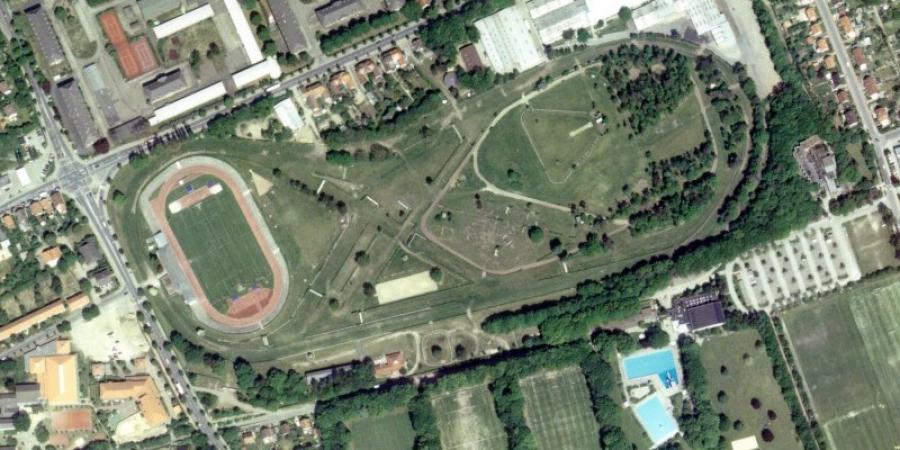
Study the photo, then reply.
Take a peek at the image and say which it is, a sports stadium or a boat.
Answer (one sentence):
There is a sports stadium in the scene.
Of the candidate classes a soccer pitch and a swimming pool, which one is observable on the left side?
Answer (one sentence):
There is a soccer pitch on the left side.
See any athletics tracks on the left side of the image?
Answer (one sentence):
Yes, an athletics track shows up on the left side of the image.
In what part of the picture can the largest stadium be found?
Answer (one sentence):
The largest stadium is in the left part of the image.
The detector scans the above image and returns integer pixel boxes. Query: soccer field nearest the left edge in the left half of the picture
[165,173,273,319]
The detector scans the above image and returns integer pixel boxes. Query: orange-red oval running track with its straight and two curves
[154,163,282,326]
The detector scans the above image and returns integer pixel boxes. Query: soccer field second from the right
[432,385,510,450]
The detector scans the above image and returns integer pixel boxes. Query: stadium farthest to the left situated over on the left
[139,155,289,333]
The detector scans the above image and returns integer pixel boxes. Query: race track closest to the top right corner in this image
[298,45,747,350]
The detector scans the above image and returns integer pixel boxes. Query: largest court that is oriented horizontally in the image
[53,410,91,432]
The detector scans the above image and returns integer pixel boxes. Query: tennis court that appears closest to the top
[100,10,127,50]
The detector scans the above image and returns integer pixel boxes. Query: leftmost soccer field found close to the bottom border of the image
[345,409,417,450]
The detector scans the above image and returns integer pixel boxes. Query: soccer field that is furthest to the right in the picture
[521,367,602,450]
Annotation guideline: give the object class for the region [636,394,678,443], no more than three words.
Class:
swimming pool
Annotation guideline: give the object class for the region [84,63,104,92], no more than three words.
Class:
building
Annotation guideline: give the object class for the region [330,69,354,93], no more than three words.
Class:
house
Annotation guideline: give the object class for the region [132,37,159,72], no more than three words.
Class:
tennis court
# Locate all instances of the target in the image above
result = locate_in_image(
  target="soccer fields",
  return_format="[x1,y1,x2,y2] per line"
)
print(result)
[432,385,510,450]
[521,367,602,450]
[345,409,417,450]
[165,173,273,319]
